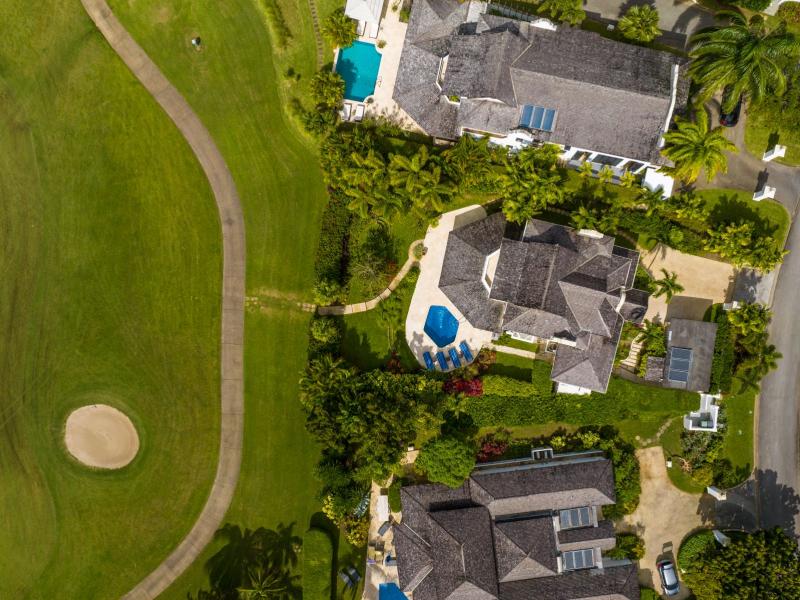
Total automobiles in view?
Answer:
2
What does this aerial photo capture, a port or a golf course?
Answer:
golf course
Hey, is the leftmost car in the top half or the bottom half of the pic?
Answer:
bottom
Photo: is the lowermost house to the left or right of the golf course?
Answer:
to the right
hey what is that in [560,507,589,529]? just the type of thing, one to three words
solar panel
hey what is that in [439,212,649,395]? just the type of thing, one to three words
house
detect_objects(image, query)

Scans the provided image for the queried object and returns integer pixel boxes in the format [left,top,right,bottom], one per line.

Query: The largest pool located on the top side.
[332,38,384,103]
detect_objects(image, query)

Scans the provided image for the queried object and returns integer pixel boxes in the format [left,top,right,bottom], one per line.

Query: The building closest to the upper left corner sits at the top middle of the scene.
[345,0,384,37]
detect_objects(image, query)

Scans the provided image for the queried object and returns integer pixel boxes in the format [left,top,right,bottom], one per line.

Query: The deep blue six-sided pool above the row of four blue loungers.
[421,303,465,351]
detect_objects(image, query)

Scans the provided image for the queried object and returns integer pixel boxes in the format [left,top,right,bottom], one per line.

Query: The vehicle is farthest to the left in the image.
[655,559,680,597]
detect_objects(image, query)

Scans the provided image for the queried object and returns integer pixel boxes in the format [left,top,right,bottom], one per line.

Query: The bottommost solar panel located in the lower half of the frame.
[563,551,594,570]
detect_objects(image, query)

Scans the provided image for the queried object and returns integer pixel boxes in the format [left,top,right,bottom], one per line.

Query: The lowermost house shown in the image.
[393,459,641,600]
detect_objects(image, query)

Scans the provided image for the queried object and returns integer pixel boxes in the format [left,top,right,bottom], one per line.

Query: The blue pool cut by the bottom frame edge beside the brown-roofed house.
[375,580,412,600]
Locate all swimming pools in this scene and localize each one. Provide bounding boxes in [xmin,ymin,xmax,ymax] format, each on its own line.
[375,580,412,600]
[421,303,465,351]
[332,38,384,103]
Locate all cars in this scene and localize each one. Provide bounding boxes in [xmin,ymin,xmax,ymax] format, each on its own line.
[655,559,680,597]
[720,89,741,124]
